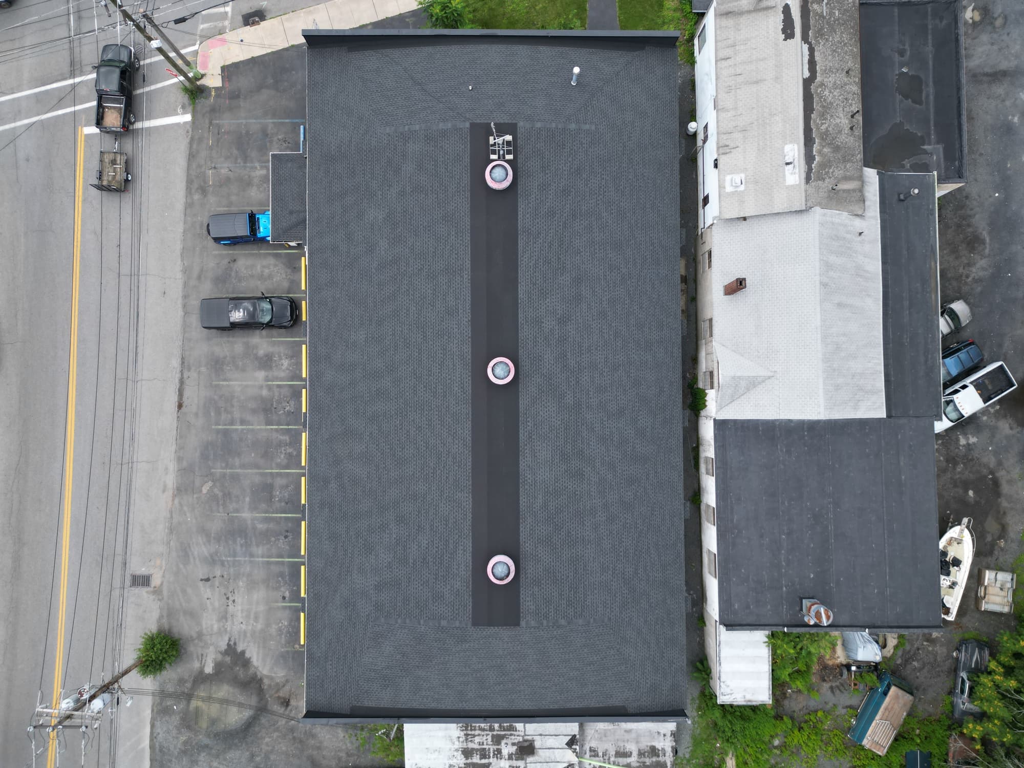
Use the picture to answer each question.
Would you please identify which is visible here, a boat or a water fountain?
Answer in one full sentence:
This aerial view contains a boat.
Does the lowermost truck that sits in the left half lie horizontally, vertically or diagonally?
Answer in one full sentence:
The lowermost truck that sits in the left half runs horizontally in the image.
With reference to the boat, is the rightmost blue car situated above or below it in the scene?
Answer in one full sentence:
Within the scene, the rightmost blue car can be found above the boat.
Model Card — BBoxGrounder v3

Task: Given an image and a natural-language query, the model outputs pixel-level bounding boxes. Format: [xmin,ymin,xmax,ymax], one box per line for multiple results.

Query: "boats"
[940,516,983,622]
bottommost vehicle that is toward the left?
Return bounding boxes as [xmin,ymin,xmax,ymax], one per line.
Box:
[200,290,301,333]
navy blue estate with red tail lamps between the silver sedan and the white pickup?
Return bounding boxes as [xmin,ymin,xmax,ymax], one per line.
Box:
[943,340,987,392]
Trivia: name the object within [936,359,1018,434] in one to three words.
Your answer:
truck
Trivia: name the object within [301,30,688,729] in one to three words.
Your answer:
building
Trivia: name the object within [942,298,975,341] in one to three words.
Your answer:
car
